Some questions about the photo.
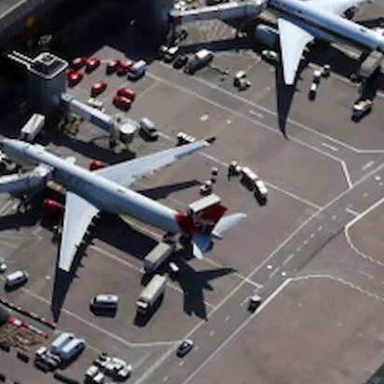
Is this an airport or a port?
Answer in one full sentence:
This looks like an airport.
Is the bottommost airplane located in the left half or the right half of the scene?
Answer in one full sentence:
The bottommost airplane is on the left side of the image.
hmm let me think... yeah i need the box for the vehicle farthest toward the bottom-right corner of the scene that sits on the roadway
[248,296,261,308]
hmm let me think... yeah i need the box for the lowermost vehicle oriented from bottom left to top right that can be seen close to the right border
[348,99,376,122]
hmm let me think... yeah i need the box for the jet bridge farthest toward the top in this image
[165,0,272,41]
